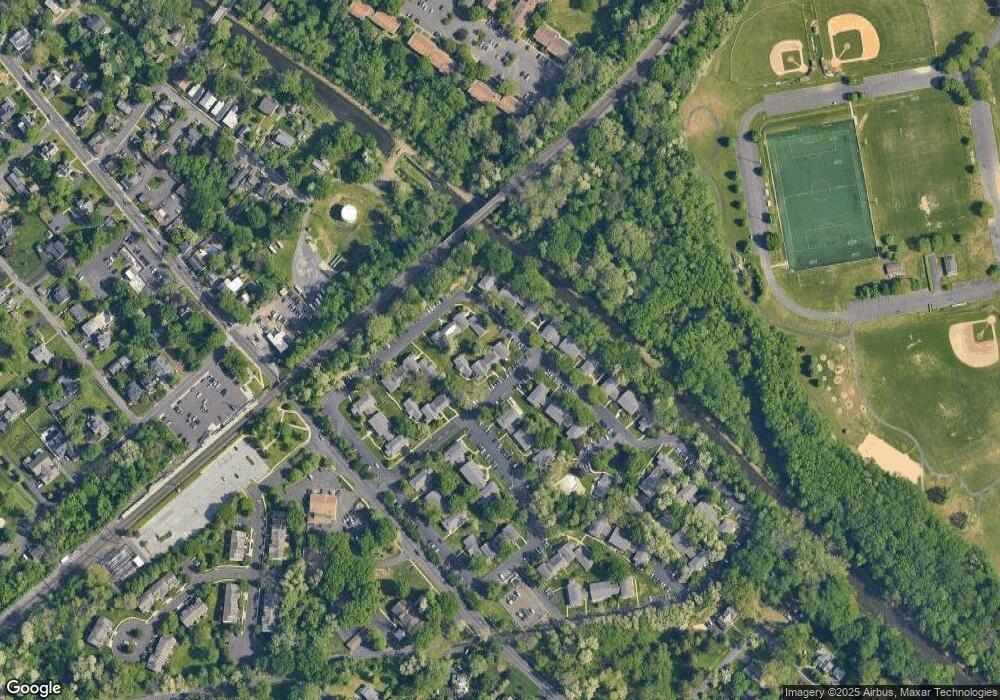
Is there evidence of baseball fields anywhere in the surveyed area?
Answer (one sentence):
Yes, the picture does show a baseball field.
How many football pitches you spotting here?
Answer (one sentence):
In total, there are 2 football pitches in the scene.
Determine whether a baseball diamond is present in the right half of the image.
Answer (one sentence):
Yes, the scene does show a baseball diamond in the right half of the image.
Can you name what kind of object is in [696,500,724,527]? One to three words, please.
building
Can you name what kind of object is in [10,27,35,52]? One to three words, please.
house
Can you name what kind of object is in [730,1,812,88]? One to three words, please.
baseball field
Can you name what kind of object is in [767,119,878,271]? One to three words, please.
soccer field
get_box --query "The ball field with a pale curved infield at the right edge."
[852,309,1000,470]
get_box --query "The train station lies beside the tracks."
[121,387,255,516]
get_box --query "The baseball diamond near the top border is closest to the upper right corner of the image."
[823,0,938,76]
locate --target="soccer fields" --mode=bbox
[859,97,976,245]
[767,119,878,271]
